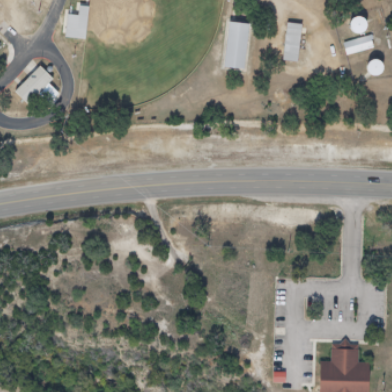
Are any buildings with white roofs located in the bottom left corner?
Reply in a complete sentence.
No, looking in the bottom left corner, there is no building with a white roof.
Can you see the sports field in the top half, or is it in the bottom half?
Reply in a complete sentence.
Seen from above, the sports field lies in the top half of the view.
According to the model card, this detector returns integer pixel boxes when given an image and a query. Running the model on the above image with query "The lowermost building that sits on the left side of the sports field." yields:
[16,66,54,103]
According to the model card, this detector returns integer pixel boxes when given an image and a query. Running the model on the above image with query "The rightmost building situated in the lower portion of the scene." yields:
[322,344,372,392]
